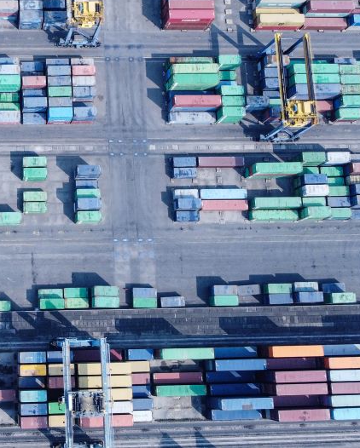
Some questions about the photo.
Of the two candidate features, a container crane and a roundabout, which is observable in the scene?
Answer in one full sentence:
The image shows a container crane.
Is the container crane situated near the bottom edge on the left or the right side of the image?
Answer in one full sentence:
The container crane situated near the bottom edge sits on the left side.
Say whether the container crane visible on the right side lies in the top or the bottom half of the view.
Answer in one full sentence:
You can find the container crane visible on the right side in the top half.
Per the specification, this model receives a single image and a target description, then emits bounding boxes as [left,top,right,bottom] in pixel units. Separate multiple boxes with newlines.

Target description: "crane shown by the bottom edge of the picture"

[49,339,117,448]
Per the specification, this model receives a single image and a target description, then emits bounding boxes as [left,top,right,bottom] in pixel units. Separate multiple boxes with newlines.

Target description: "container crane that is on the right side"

[247,30,324,143]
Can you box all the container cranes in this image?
[247,30,324,143]
[52,0,105,49]
[49,339,117,448]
